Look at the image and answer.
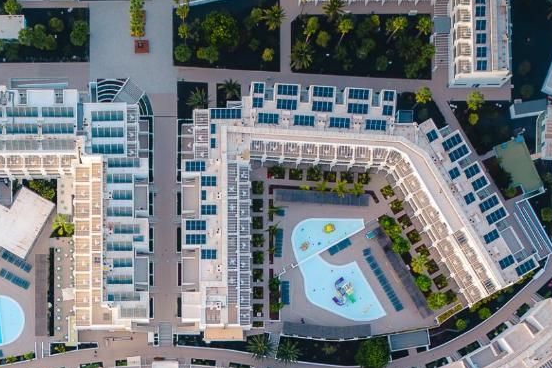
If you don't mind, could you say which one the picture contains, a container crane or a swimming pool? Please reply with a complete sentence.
Visible in the photo is a swimming pool.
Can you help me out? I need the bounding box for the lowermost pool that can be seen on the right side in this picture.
[299,255,386,321]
